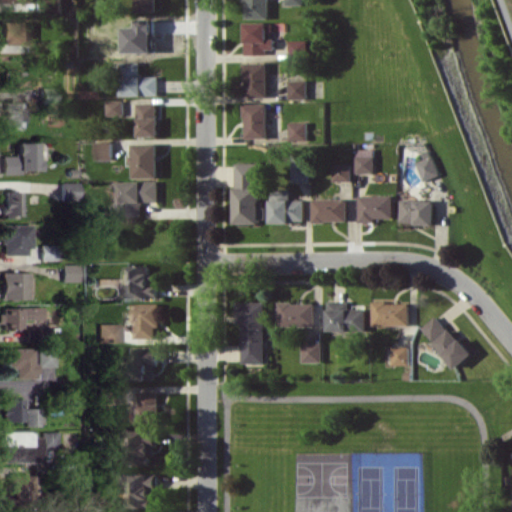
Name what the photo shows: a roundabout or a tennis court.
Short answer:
tennis court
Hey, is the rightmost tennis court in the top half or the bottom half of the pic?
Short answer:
bottom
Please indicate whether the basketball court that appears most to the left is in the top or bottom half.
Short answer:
bottom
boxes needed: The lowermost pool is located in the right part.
[420,352,442,370]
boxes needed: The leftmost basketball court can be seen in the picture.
[296,454,351,512]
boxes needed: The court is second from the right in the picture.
[352,454,388,512]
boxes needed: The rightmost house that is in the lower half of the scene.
[424,320,470,370]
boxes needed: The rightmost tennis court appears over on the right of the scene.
[388,454,424,512]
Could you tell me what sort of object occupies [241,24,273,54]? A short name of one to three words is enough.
house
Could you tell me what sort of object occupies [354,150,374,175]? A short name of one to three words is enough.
building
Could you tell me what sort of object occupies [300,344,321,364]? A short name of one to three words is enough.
building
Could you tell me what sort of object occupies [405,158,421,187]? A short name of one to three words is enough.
swimming pool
